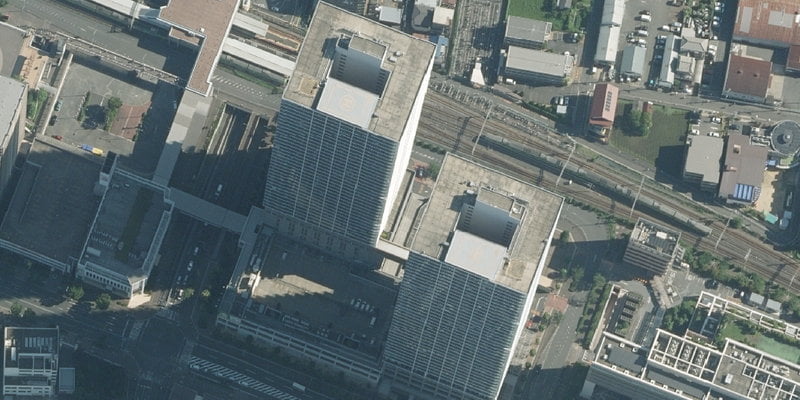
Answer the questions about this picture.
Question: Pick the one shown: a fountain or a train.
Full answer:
There is a train in the scene.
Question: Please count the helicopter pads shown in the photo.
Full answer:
In total, there are 2 helicopter pads in the scene.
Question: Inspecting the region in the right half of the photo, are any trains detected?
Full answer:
Yes, a train can be seen in the right half of the photo.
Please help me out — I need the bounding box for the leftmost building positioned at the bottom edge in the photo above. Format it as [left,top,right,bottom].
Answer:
[2,327,59,400]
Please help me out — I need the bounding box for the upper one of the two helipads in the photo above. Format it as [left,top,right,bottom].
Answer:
[317,78,380,130]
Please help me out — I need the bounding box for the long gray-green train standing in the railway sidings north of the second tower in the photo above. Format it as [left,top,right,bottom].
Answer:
[478,135,712,234]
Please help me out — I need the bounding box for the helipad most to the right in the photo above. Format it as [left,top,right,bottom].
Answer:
[445,230,507,284]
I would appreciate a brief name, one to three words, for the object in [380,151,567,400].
building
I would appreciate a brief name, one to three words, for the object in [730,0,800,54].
building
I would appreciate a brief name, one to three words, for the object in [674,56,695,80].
house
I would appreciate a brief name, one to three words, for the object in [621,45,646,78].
shed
